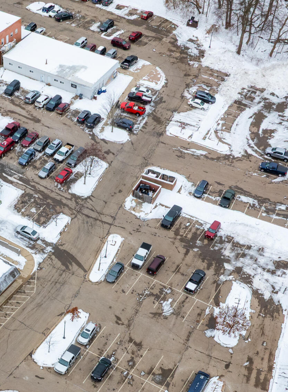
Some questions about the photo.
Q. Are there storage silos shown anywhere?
No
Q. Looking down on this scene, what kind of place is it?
parking lot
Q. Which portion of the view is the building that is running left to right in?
top left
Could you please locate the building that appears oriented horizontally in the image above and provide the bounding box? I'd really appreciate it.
[3,33,119,99]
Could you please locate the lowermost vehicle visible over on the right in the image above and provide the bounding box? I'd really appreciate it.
[188,371,210,392]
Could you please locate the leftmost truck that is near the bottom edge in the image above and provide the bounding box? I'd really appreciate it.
[55,342,81,374]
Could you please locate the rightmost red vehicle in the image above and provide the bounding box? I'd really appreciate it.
[206,219,223,239]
